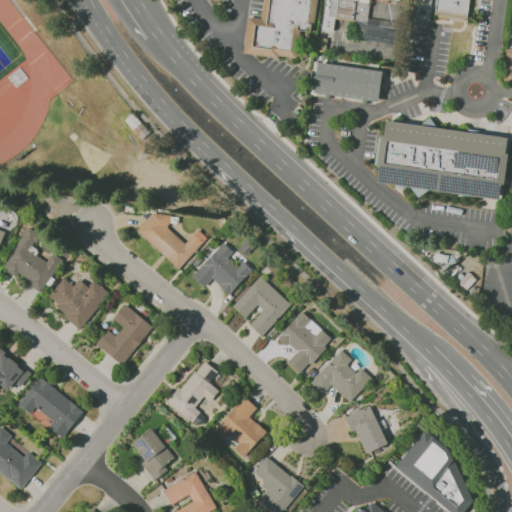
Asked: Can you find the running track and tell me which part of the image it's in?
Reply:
top left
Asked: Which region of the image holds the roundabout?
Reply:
top right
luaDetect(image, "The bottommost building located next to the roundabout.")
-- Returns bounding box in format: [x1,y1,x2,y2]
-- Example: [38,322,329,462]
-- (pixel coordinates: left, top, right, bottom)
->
[374,118,508,197]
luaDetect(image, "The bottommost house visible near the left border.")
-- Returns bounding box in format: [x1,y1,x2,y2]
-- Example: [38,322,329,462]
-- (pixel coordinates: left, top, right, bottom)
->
[0,428,41,490]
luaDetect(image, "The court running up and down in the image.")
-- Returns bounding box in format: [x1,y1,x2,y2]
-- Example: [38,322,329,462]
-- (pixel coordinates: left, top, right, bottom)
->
[0,22,26,80]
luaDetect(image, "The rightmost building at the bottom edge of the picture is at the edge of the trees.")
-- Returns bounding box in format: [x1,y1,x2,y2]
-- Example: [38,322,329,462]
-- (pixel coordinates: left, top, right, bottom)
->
[398,432,474,512]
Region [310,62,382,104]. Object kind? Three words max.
building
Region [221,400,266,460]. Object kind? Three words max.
house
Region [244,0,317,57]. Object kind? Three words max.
building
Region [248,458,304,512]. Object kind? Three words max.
house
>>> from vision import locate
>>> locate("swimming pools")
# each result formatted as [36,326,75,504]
[350,347,370,368]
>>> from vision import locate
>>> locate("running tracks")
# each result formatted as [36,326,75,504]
[0,0,73,164]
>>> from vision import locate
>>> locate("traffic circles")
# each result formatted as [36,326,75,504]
[448,0,512,118]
